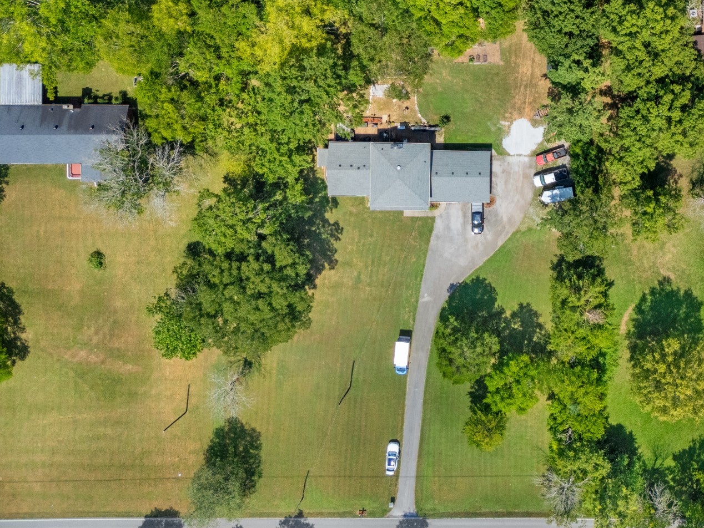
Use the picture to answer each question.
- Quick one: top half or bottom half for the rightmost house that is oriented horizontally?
top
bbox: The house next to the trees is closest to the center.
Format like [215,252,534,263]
[316,141,492,212]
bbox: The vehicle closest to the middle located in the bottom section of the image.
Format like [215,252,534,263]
[390,332,408,370]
